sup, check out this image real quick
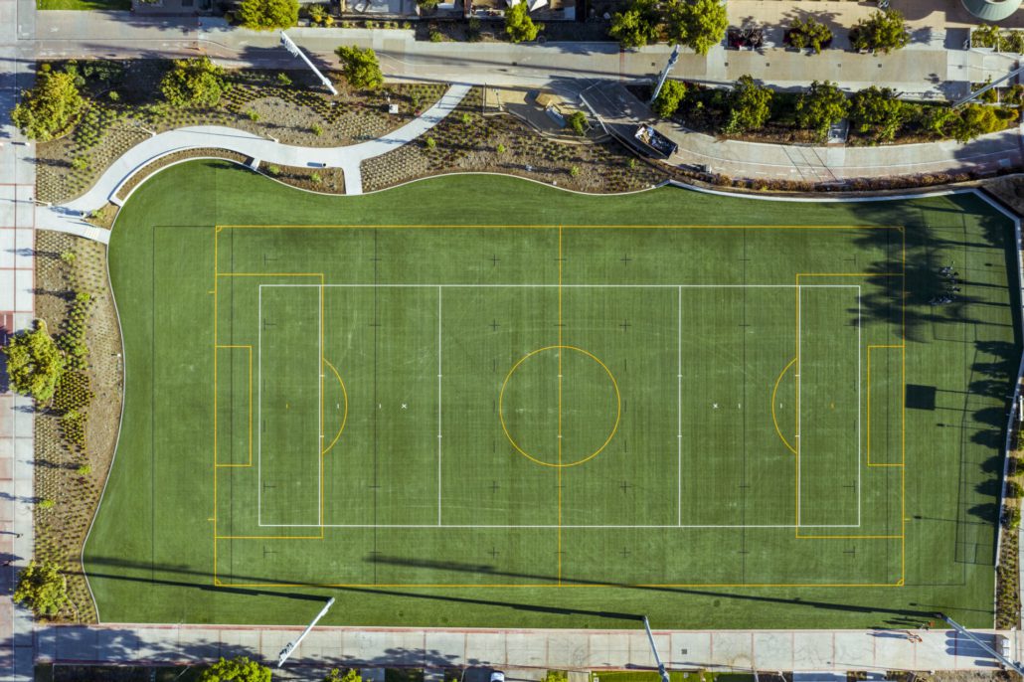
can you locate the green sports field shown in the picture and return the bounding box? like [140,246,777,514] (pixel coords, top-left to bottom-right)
[83,159,1021,626]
